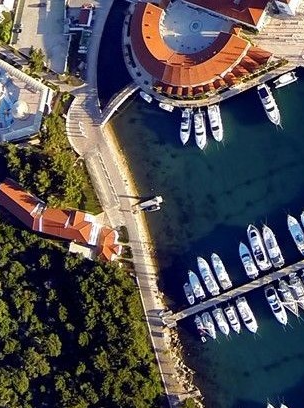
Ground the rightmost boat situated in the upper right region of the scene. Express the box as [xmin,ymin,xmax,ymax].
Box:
[274,73,299,89]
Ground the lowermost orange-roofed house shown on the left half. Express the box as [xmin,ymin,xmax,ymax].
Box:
[100,226,124,262]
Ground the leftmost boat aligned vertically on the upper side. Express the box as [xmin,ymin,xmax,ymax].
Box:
[180,109,193,144]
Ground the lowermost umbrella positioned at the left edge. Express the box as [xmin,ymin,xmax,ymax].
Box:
[13,101,28,116]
